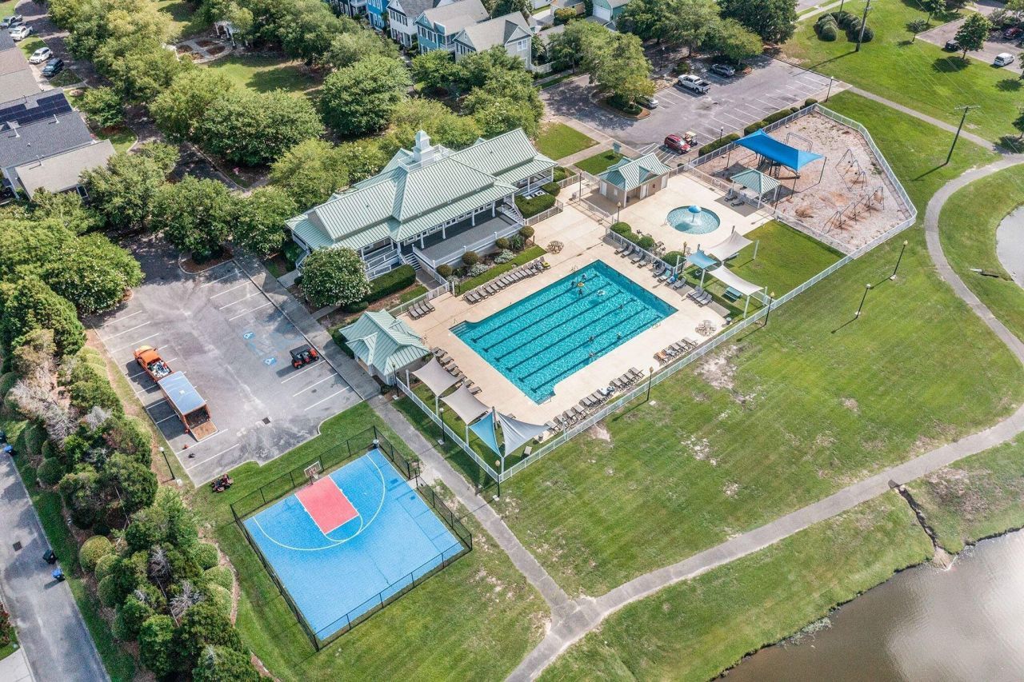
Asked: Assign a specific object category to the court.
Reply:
basketball court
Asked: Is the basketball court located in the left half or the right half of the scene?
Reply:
left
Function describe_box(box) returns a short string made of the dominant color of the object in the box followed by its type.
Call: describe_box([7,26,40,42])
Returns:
white vehicle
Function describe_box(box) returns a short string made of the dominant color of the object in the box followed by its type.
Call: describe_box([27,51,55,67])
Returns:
white car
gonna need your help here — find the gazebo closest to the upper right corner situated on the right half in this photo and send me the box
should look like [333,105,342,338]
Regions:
[729,168,783,208]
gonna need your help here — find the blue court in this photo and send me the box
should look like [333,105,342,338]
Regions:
[240,445,463,641]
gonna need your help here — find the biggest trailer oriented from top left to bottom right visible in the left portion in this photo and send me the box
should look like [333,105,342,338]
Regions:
[157,371,220,443]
